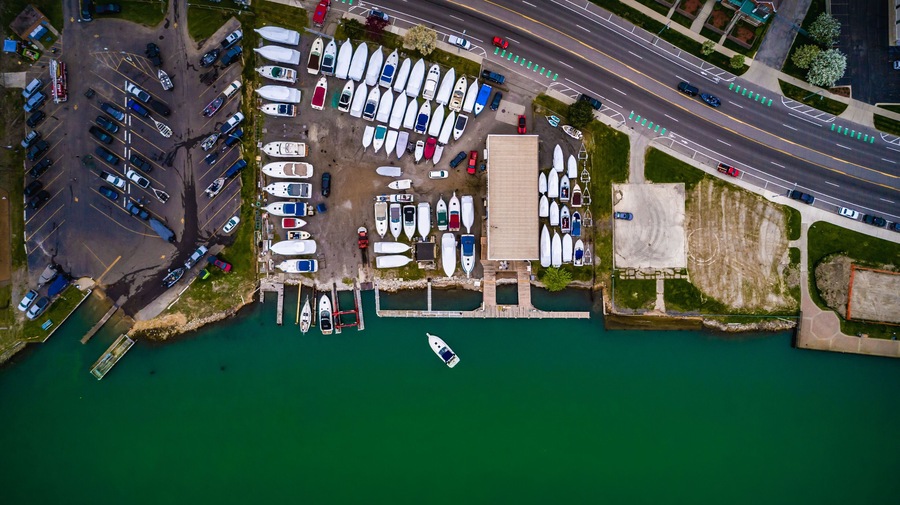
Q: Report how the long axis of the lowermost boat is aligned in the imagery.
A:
on a diagonal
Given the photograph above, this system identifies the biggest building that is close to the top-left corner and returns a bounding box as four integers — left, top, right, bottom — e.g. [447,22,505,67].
[9,5,57,43]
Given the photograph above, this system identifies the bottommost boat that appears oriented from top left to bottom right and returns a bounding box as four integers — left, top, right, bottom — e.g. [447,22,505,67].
[426,333,460,367]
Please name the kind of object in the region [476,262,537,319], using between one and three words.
pier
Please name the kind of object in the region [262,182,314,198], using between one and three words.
boat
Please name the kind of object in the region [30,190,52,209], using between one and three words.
vehicle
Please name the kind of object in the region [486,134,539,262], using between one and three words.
building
